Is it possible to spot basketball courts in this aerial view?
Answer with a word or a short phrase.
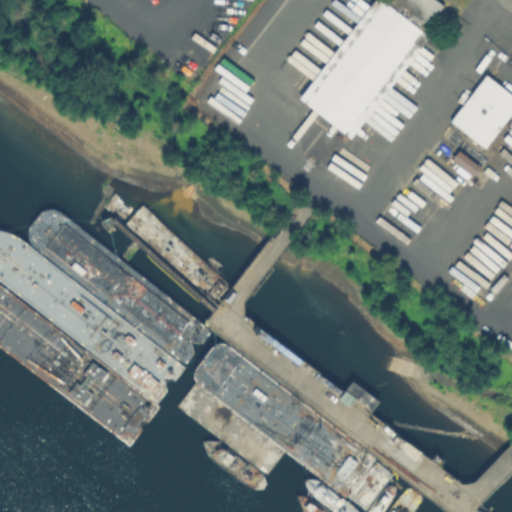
No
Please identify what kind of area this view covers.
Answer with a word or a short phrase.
port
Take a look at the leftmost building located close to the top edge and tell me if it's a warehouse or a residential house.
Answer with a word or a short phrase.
warehouse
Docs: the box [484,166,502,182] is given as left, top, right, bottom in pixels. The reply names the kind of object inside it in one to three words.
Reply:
vehicle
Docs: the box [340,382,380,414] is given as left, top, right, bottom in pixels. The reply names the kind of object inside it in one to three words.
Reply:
shed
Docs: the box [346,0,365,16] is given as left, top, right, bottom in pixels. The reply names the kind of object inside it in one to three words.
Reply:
vehicle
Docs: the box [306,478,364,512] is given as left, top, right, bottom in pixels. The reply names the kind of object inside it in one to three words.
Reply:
boat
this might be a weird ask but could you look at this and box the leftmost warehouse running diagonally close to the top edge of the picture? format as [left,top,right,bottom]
[301,0,426,131]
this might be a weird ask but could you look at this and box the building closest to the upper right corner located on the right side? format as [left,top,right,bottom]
[452,74,512,148]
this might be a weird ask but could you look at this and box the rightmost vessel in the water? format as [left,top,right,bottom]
[389,487,423,512]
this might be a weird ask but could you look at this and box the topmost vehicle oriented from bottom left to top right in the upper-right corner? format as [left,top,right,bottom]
[478,50,496,74]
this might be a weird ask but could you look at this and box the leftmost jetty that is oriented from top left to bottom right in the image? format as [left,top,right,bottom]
[116,220,216,308]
